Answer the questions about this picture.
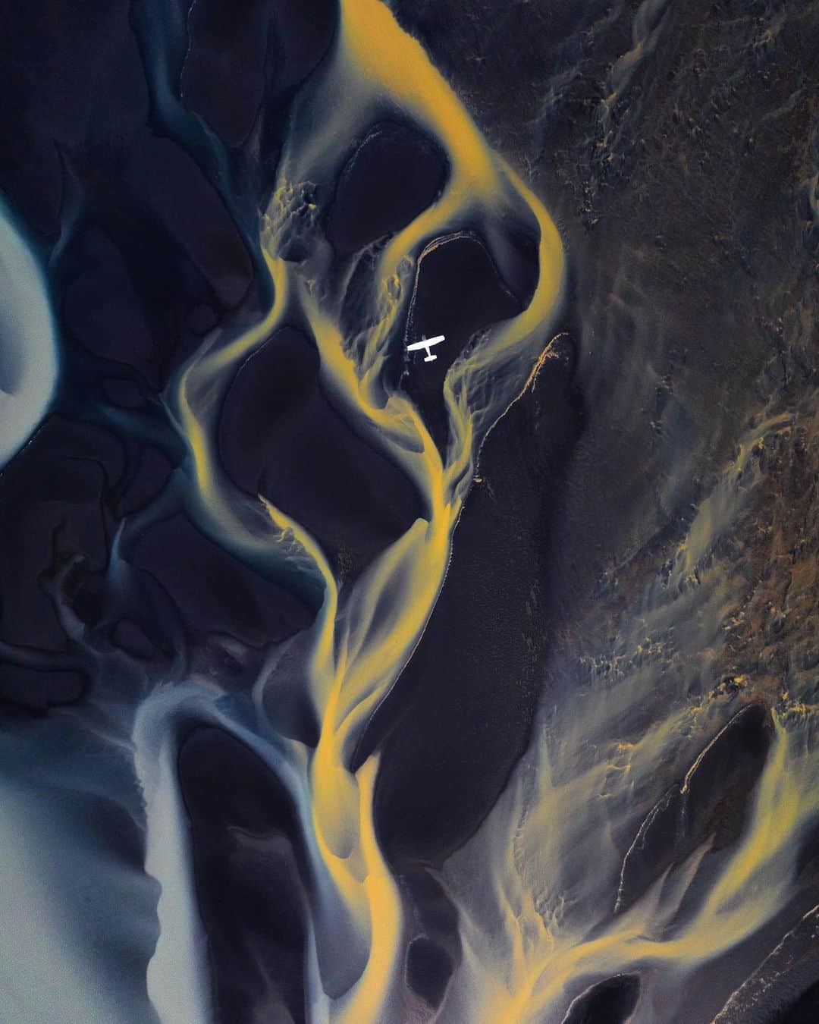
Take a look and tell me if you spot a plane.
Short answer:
Yes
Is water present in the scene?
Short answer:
Yes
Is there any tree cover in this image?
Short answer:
No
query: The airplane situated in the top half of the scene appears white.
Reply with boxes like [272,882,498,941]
[407,337,446,366]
